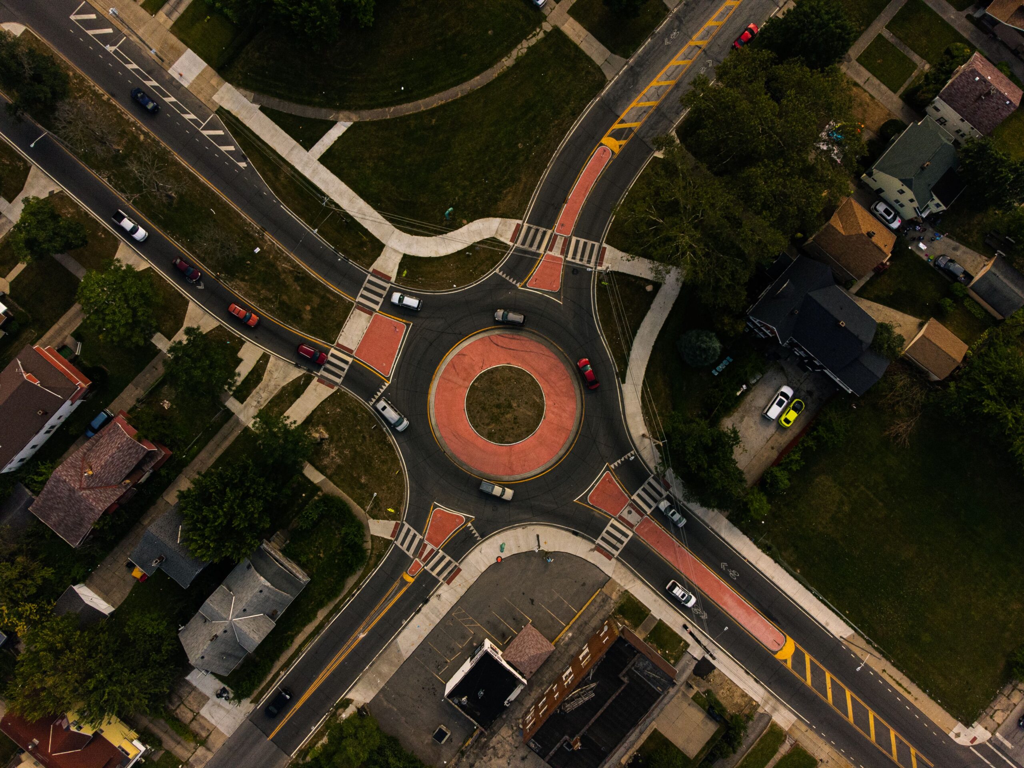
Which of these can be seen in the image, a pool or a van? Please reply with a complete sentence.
The one in the frame is a van.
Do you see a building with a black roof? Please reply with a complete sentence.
Yes, there's a building with a black roof down there.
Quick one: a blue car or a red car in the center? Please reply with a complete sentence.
The feature located in the center is a red car.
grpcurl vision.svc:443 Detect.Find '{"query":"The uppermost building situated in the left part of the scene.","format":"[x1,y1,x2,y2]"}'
[0,299,28,340]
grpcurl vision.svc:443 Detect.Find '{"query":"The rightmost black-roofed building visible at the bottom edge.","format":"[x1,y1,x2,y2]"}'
[524,618,679,768]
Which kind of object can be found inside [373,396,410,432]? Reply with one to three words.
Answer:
van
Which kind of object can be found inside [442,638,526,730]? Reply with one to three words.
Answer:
building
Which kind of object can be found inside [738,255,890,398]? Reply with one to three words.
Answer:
house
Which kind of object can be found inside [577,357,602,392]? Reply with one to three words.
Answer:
car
